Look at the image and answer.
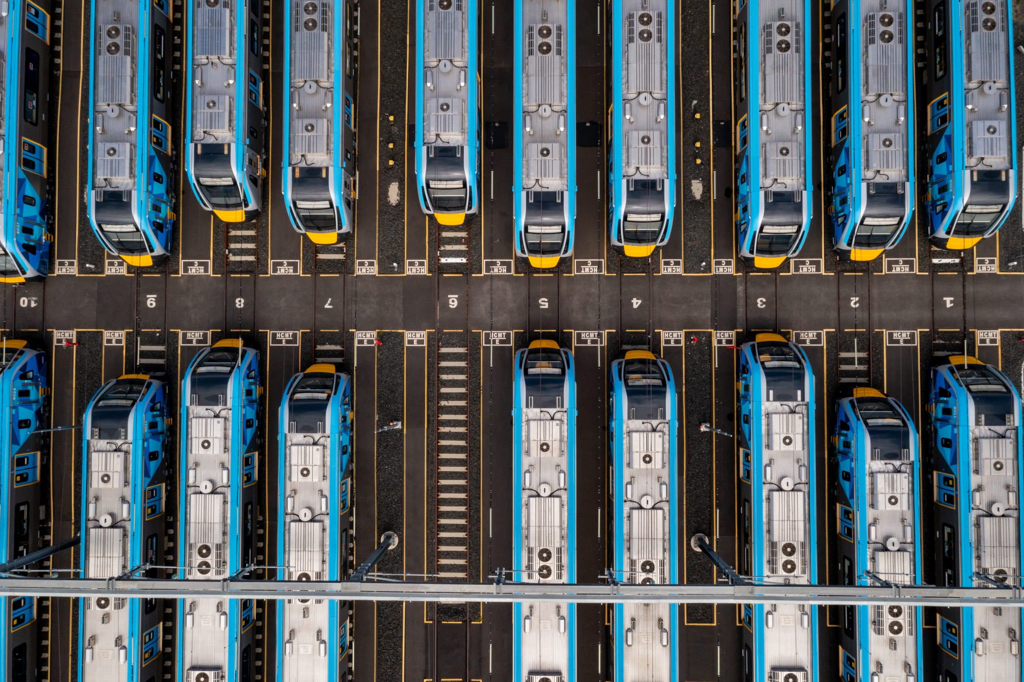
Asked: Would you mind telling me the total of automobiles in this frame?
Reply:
0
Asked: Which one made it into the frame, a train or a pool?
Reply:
train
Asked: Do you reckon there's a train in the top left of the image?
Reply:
Yes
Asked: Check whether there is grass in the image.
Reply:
No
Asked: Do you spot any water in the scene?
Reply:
No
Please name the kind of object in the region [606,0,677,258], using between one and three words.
train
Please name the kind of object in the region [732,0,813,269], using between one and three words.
train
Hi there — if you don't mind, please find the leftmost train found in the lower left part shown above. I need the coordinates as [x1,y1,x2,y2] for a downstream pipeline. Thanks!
[0,338,52,682]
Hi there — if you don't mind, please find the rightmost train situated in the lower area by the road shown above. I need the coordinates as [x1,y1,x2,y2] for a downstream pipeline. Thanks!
[924,354,1024,682]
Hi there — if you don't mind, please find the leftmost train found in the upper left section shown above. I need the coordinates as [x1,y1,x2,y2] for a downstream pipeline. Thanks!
[0,0,58,289]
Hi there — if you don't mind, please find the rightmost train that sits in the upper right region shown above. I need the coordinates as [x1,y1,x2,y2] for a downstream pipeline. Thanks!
[920,0,1017,250]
